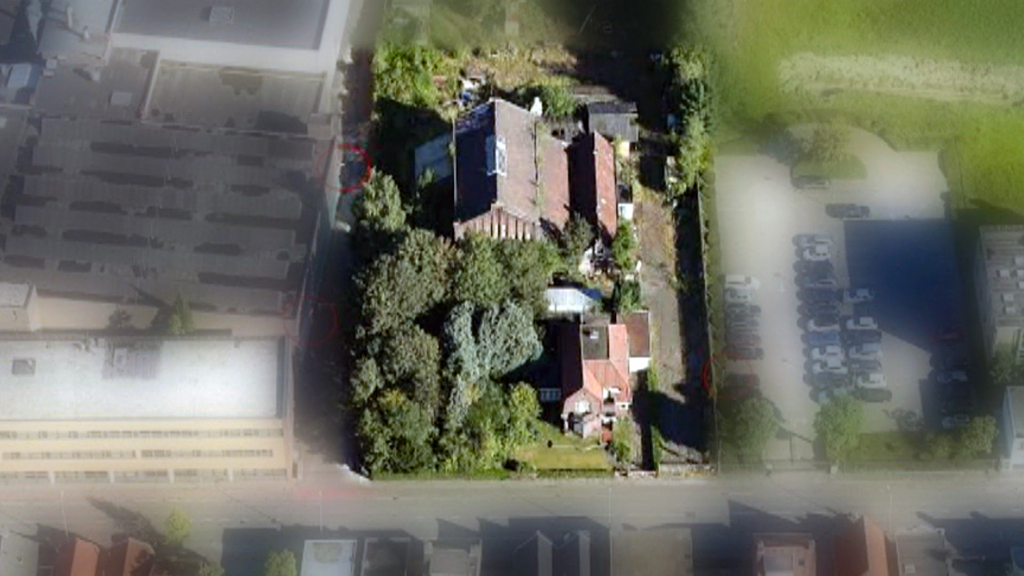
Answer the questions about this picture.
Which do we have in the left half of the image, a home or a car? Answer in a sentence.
What appears in the left half of the image is a home.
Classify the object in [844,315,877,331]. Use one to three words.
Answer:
car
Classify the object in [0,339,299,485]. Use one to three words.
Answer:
building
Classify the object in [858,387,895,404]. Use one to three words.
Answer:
car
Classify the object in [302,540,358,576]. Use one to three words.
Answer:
house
